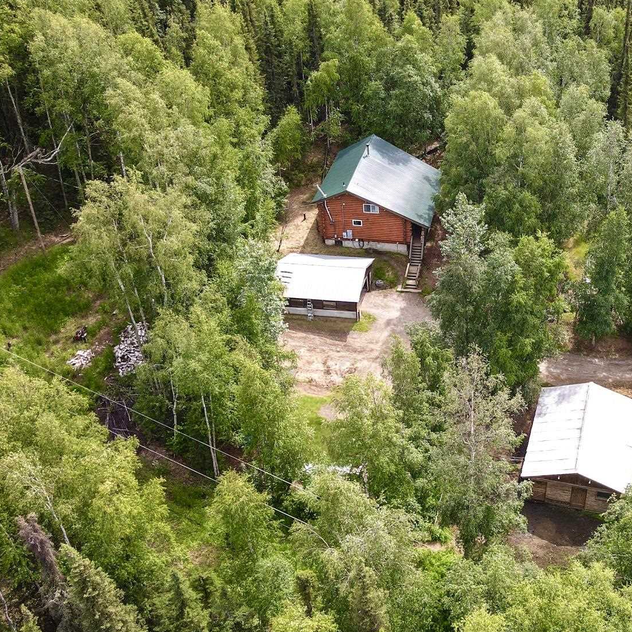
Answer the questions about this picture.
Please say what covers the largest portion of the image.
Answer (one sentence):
The scene is dominated by trees.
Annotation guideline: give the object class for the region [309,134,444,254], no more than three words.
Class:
house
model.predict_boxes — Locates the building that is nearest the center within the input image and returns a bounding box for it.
[273,253,375,322]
